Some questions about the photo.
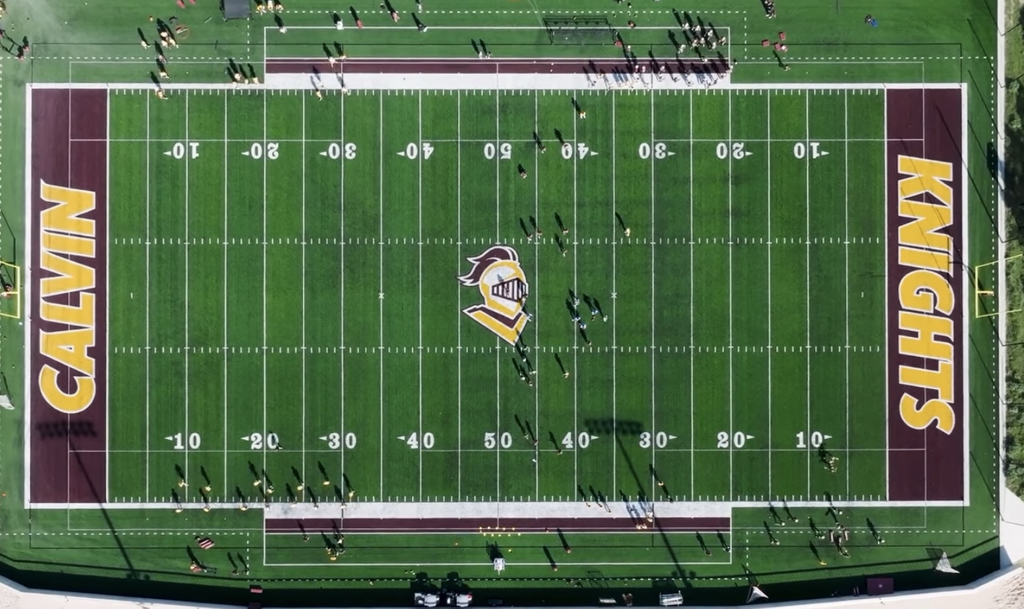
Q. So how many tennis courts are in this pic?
0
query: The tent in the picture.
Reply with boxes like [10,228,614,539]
[224,0,257,30]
